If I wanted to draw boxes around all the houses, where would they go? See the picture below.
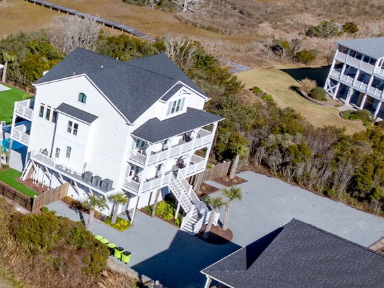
[324,38,384,117]
[1,49,227,235]
[193,220,384,288]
